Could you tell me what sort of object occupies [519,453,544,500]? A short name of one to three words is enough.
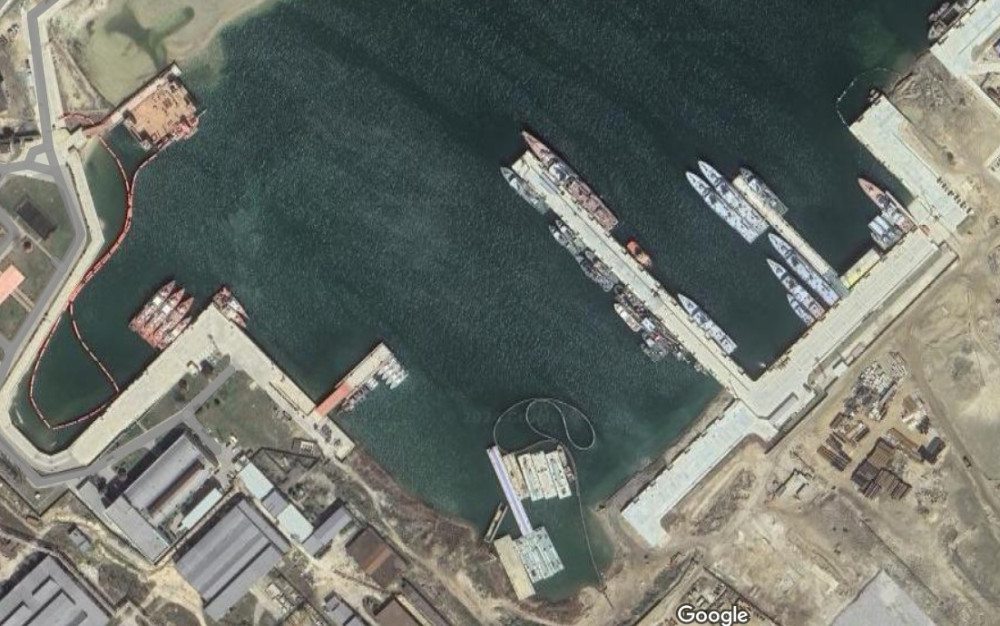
ship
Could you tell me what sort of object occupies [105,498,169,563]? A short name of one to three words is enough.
building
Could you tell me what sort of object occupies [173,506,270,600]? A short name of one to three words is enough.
hangar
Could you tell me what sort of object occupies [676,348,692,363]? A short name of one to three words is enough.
boat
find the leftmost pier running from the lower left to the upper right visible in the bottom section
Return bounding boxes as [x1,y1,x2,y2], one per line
[315,344,392,417]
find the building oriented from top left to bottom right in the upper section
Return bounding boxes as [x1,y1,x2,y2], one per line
[16,198,56,239]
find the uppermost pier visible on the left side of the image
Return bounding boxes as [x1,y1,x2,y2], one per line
[82,66,207,170]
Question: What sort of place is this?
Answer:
port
